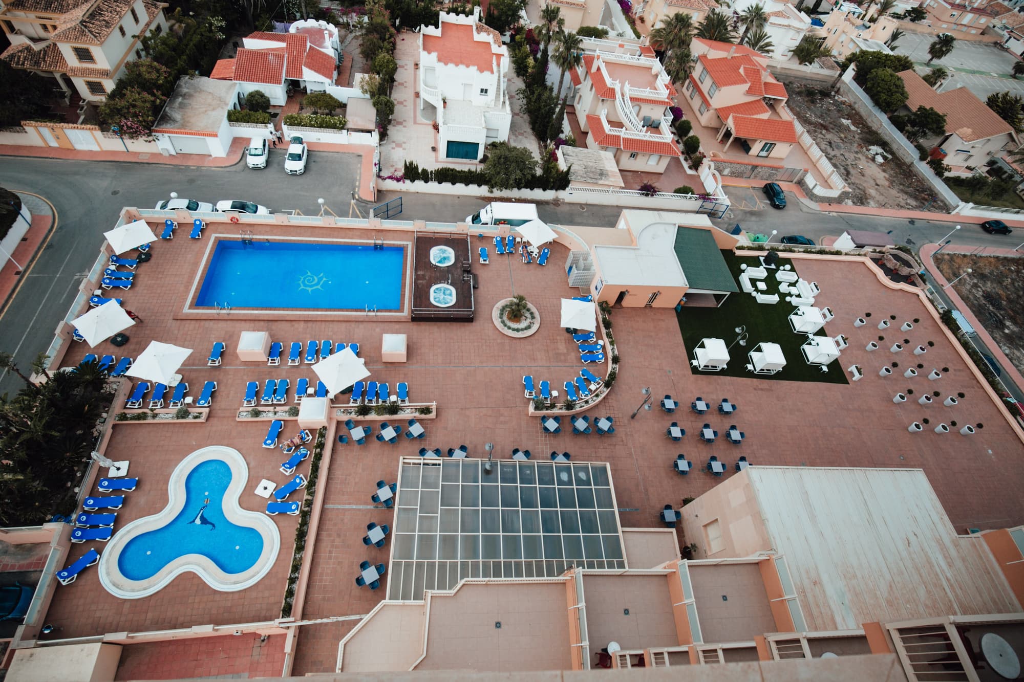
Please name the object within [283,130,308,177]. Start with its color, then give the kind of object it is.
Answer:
white car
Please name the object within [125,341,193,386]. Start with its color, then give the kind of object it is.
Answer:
white umbrella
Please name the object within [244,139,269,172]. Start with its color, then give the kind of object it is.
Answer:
white car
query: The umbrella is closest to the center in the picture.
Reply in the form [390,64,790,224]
[560,298,596,335]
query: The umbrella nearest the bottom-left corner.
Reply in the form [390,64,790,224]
[91,452,117,468]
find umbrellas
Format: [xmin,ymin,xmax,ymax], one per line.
[515,218,558,248]
[71,299,136,349]
[91,452,117,468]
[560,298,596,335]
[104,219,158,261]
[125,341,193,386]
[311,348,371,398]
